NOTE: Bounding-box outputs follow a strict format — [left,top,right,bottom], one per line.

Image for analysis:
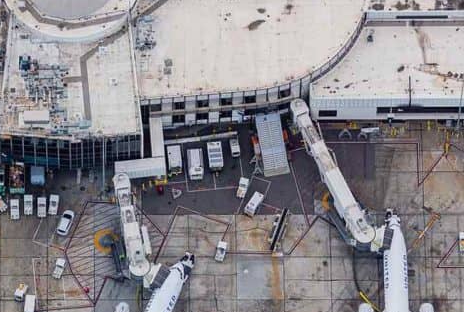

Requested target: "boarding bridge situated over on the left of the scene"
[110,157,172,298]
